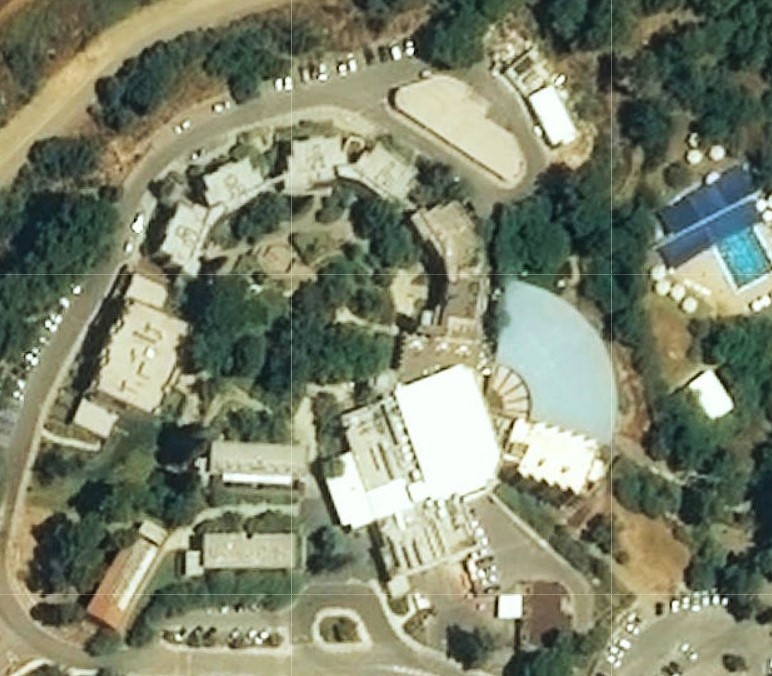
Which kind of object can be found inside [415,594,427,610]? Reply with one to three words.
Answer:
vehicle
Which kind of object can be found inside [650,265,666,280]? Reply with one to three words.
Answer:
umbrella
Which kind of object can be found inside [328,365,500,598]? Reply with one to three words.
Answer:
building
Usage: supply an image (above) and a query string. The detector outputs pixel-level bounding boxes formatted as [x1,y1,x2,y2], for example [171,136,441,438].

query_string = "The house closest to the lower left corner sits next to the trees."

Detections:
[89,541,161,633]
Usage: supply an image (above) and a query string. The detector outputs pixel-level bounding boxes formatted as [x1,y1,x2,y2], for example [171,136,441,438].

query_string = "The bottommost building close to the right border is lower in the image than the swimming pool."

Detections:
[688,369,734,419]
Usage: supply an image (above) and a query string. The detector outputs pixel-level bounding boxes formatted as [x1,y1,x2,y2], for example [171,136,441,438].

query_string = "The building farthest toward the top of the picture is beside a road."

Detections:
[496,47,549,96]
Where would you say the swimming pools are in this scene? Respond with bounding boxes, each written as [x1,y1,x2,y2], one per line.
[675,205,772,317]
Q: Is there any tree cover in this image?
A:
Yes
